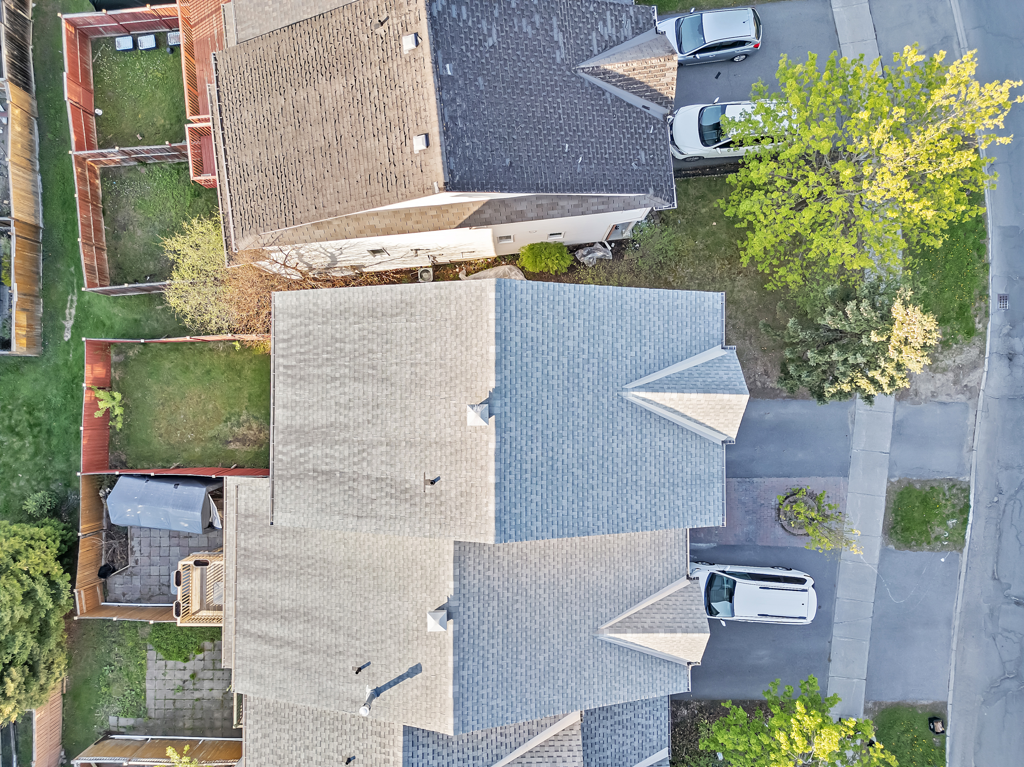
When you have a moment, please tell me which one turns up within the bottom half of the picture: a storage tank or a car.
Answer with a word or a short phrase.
car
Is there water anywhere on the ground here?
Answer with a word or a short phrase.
No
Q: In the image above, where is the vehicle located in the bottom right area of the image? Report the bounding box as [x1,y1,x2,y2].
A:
[691,558,816,625]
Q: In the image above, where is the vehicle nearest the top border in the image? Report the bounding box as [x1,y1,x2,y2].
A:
[660,0,760,60]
